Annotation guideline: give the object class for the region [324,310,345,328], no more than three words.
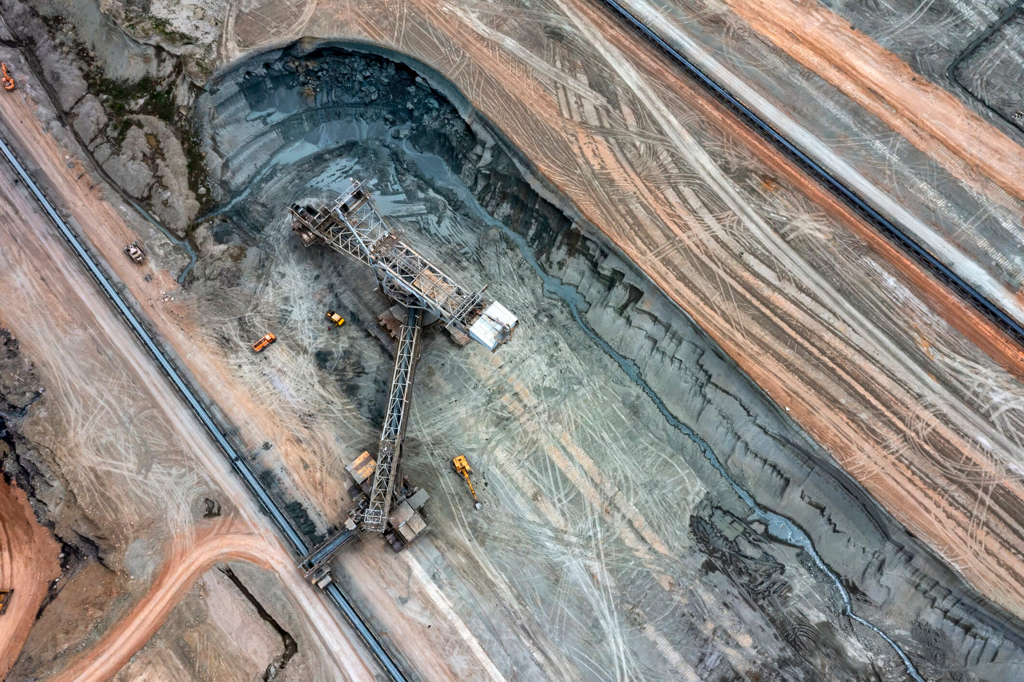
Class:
work vehicle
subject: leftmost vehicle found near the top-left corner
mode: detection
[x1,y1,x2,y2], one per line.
[0,61,22,97]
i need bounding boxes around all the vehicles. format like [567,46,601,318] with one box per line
[248,332,278,354]
[450,457,483,517]
[0,587,13,613]
[0,61,22,97]
[287,176,521,531]
[324,310,345,328]
[119,240,145,267]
